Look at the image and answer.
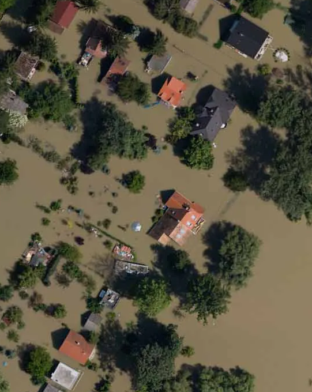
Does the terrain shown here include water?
Yes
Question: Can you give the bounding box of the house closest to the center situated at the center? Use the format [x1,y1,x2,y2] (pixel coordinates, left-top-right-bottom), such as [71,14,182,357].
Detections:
[155,187,210,248]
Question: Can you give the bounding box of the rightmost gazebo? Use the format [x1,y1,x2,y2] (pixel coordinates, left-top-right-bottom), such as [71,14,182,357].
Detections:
[271,47,288,64]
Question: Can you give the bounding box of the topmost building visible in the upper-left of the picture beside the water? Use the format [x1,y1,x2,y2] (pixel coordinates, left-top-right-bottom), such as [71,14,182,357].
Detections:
[45,0,81,35]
